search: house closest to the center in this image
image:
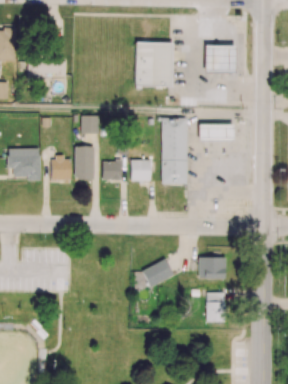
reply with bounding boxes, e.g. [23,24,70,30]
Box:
[130,160,152,182]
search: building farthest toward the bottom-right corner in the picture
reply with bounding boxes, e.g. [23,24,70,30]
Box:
[206,292,226,324]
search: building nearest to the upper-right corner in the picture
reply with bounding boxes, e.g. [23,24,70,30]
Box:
[136,42,174,90]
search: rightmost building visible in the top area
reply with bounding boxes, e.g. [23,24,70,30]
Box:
[158,118,188,186]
